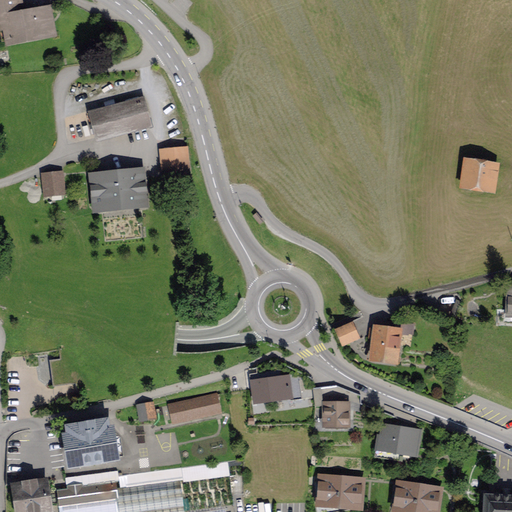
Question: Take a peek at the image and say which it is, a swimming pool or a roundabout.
roundabout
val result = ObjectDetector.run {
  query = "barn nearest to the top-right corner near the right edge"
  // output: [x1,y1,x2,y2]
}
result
[459,157,500,194]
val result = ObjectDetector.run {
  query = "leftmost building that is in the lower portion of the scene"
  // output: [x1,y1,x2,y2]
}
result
[10,477,54,512]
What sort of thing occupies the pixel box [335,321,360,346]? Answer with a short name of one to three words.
shed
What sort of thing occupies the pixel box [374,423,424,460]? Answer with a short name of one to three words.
house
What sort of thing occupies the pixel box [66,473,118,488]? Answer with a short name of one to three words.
building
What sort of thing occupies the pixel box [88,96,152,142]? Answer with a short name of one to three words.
barn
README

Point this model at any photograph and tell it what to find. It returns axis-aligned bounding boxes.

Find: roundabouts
[245,269,320,344]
